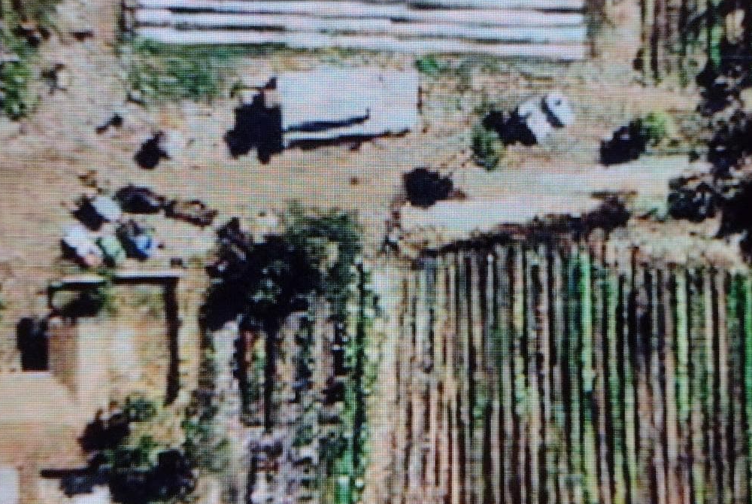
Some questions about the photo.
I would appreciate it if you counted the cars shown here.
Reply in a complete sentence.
The number of cars here is 7.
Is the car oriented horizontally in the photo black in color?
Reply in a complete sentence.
Yes, black is the color of the car oriented horizontally.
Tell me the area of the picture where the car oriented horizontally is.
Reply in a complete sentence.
You can find the car oriented horizontally in the left area of the picture.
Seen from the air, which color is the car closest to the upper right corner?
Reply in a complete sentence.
The car closest to the upper right corner is white.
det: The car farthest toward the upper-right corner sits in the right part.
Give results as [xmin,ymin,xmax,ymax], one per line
[543,88,572,126]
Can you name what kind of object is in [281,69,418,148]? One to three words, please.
shed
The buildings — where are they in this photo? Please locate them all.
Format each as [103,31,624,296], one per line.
[0,320,109,504]
[281,69,418,148]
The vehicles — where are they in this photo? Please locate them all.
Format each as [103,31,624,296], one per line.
[121,223,156,261]
[518,94,555,142]
[115,187,160,211]
[96,233,126,269]
[59,223,96,261]
[543,88,572,126]
[86,190,123,226]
